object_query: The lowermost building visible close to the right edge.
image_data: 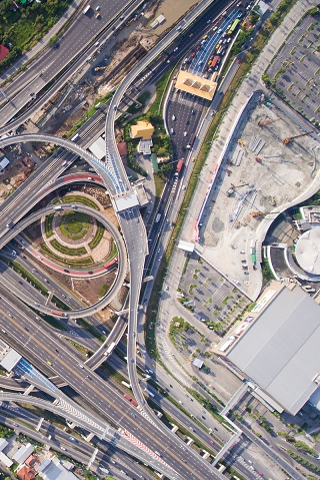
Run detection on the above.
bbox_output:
[202,279,320,419]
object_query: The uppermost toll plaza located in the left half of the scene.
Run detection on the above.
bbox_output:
[111,191,140,214]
